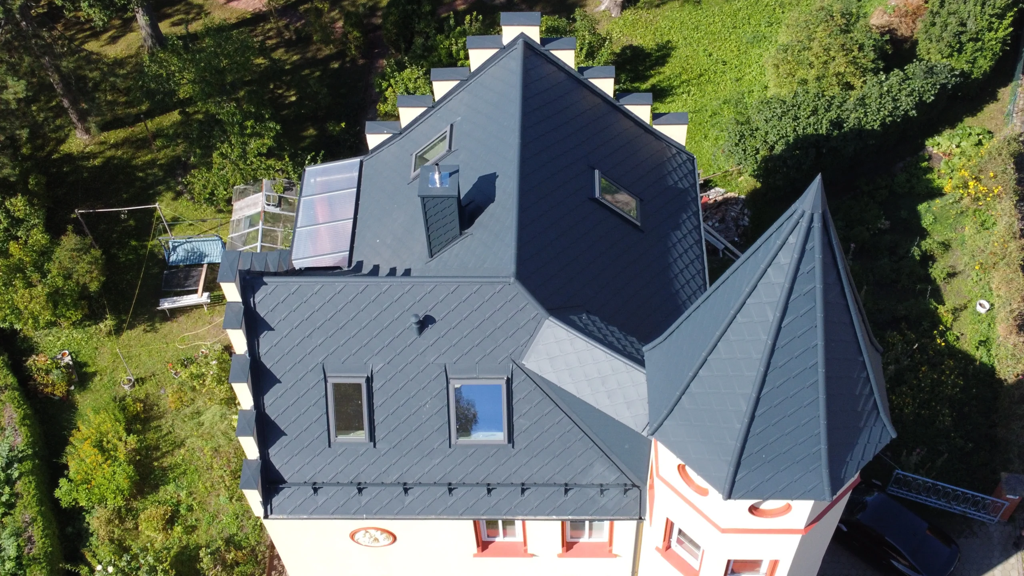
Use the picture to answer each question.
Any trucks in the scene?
No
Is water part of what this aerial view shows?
No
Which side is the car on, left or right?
right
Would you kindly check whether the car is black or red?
black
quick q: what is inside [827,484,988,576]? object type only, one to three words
car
